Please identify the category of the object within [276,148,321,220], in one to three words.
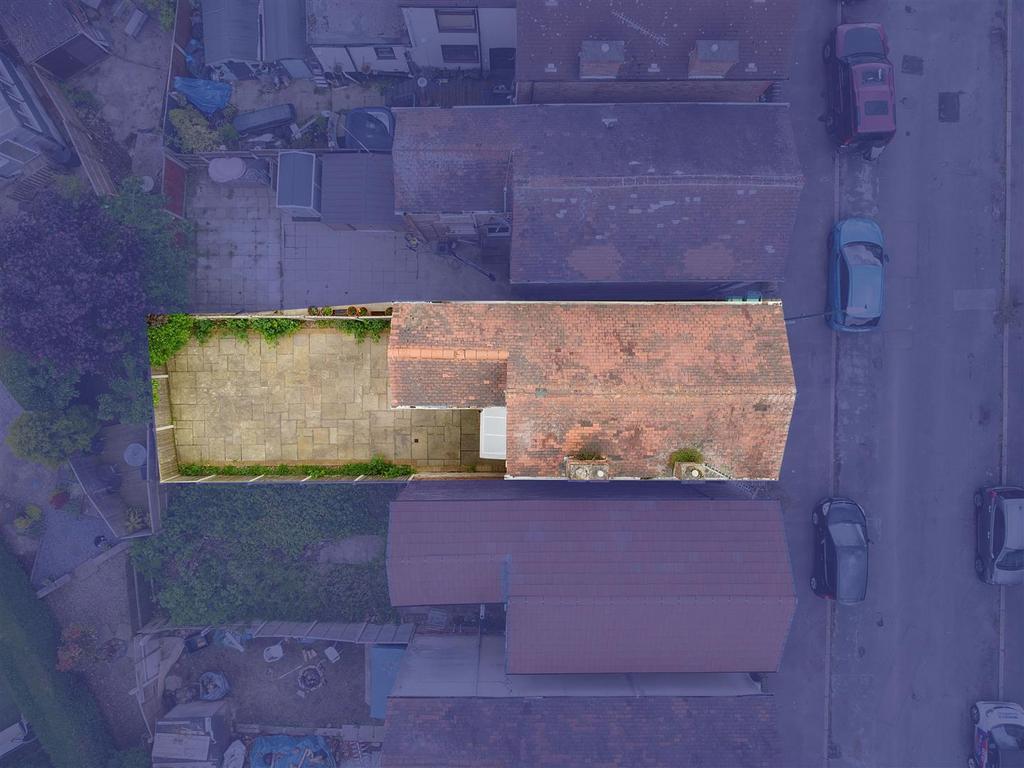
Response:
shed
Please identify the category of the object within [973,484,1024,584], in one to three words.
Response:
car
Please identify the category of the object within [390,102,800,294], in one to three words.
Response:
house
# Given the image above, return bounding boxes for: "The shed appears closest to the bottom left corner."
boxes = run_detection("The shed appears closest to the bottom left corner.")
[152,700,236,768]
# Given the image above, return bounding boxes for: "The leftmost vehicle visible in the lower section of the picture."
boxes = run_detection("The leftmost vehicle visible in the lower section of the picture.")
[811,495,873,604]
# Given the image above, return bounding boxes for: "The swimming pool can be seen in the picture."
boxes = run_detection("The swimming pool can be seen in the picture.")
[346,107,393,150]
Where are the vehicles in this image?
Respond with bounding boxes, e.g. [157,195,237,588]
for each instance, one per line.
[827,219,890,332]
[968,698,1024,768]
[811,495,873,604]
[973,484,1024,584]
[826,24,895,146]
